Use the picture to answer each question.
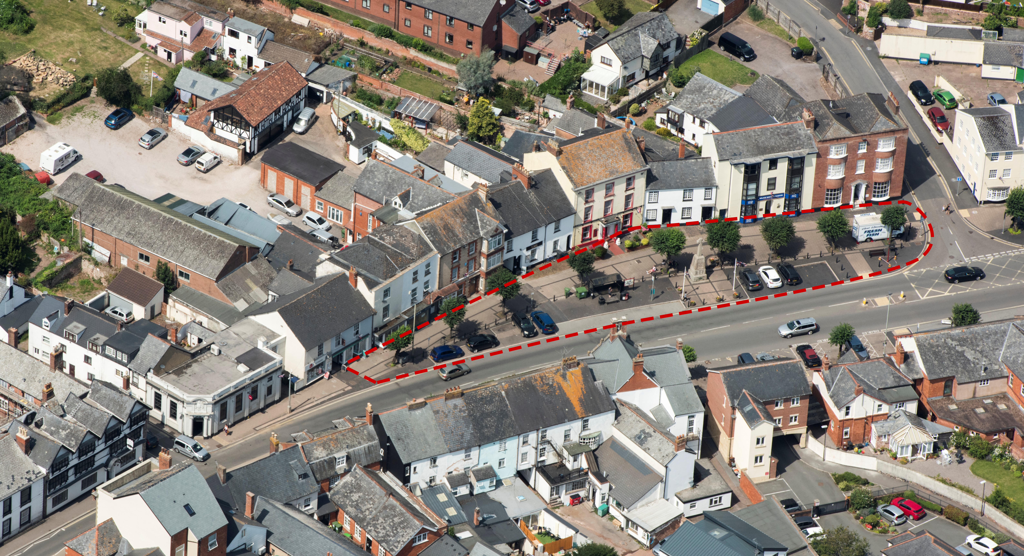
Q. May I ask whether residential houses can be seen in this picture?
Yes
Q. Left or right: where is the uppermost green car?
right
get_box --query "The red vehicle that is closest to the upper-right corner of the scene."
[926,108,948,131]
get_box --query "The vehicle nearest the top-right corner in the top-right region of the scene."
[981,88,1013,111]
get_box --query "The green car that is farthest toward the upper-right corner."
[931,89,959,110]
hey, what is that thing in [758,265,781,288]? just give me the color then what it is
white car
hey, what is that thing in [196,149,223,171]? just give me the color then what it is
white vehicle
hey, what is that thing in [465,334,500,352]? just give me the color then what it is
black car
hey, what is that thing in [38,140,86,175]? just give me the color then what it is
white camper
